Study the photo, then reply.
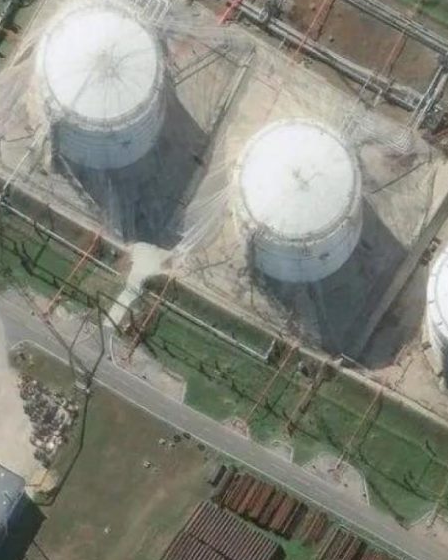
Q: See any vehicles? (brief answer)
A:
No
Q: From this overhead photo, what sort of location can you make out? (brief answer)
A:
industrial area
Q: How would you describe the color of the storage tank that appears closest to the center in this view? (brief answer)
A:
white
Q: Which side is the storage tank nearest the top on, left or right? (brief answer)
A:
left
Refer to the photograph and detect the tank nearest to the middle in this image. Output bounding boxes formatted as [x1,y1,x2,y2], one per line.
[232,117,375,286]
